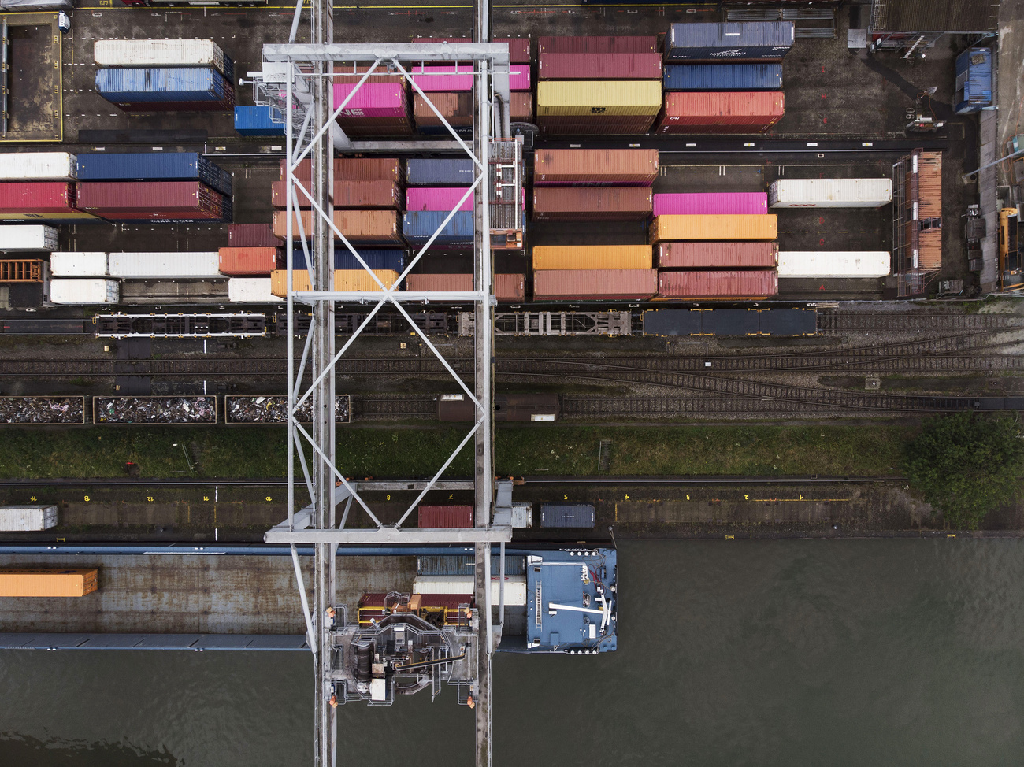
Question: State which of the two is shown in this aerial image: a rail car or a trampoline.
rail car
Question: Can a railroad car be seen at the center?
Yes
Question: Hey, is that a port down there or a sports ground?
port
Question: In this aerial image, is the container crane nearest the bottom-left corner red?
No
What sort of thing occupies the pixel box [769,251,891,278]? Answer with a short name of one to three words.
shipping container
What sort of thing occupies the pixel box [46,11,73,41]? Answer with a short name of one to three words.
vehicle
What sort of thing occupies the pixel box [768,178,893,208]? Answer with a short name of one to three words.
shipping container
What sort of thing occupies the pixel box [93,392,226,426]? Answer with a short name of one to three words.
rail car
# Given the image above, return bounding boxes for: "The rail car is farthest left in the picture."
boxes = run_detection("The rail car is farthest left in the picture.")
[0,394,93,426]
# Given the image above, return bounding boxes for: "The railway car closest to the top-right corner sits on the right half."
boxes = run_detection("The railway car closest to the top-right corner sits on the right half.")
[637,308,822,335]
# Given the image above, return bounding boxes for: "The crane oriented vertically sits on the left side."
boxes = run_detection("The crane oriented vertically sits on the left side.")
[238,0,542,767]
